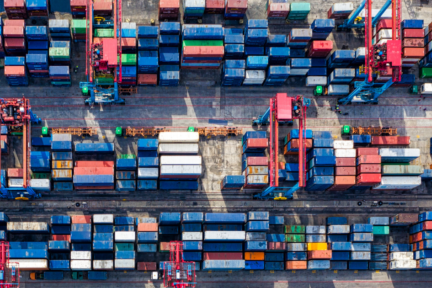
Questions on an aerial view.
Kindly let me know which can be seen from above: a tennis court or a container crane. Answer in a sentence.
This aerial view contains a container crane.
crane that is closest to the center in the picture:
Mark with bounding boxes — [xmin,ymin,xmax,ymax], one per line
[250,93,306,200]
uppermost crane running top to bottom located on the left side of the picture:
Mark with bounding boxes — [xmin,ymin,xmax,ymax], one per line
[82,0,124,102]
